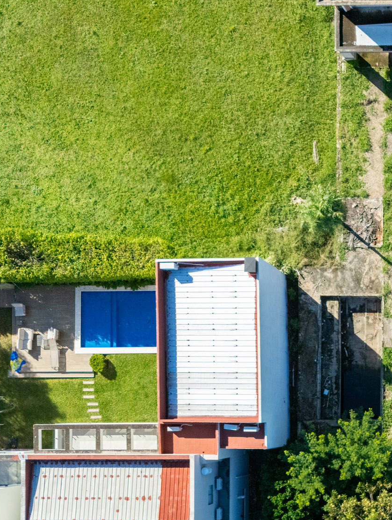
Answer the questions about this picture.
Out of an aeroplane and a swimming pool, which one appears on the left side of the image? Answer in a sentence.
It is a swimming pool that can be seen on the left side of the image.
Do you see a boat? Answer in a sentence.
No, the photo shows no boat.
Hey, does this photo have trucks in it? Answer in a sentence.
No, there appears to be no truck in this shot.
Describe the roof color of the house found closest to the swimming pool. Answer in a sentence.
The roof of the house found closest to the swimming pool is white.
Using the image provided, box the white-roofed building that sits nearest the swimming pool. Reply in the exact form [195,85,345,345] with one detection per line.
[157,257,293,454]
